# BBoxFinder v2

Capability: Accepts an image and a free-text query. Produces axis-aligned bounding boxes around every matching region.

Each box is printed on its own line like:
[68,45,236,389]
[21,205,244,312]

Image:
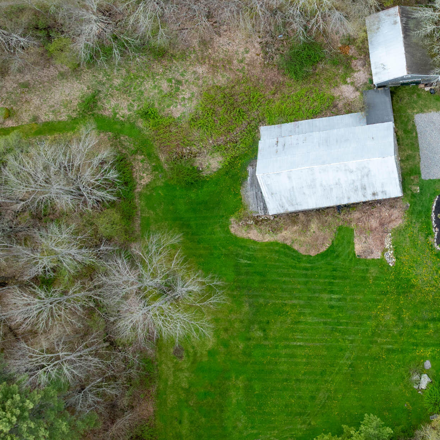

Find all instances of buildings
[256,113,402,214]
[365,5,440,88]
